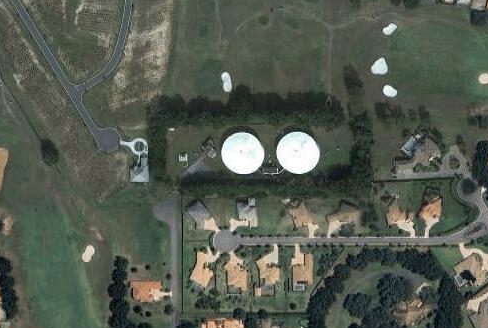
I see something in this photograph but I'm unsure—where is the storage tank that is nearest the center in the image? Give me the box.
[221,132,264,175]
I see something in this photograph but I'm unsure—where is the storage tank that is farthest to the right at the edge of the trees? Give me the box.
[276,132,319,175]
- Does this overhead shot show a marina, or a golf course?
golf course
